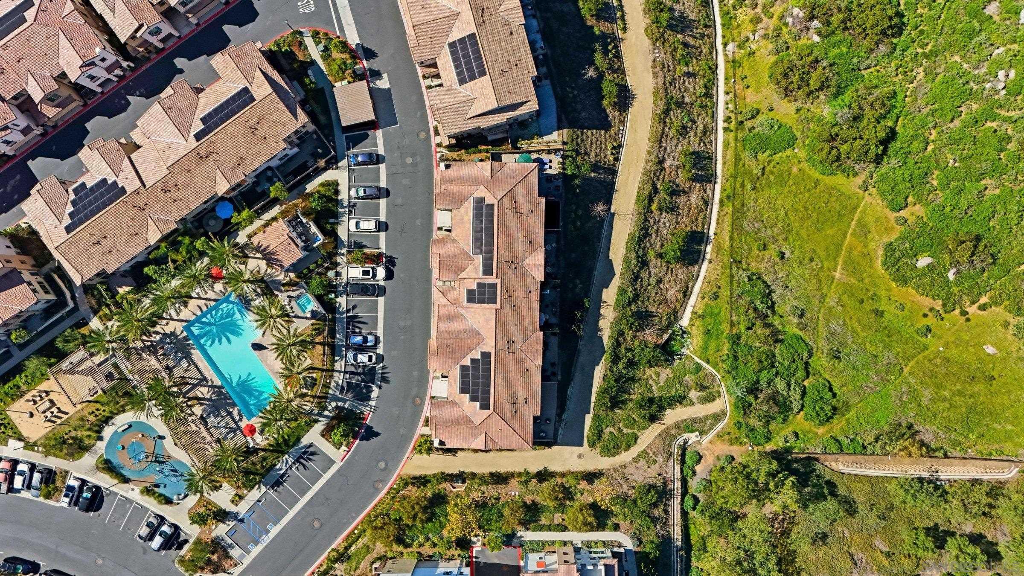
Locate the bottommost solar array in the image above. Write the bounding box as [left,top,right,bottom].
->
[459,352,490,408]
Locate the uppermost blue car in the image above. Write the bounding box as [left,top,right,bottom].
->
[348,151,376,165]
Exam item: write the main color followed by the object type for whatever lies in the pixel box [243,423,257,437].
red umbrella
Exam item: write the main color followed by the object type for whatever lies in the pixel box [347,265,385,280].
white vehicle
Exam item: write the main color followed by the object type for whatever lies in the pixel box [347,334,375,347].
blue vehicle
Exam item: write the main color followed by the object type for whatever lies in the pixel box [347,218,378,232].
white car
